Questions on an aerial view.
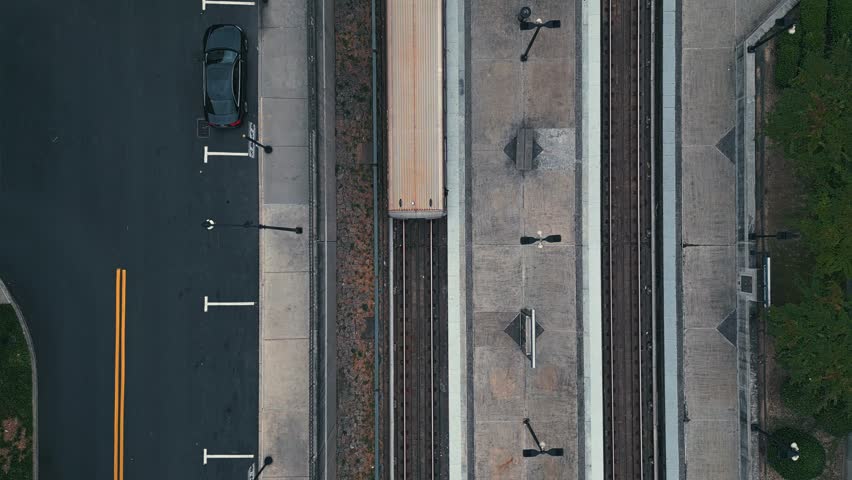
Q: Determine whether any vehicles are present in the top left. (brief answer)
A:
Yes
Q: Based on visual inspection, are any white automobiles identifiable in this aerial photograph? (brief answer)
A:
No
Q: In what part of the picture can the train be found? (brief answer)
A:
top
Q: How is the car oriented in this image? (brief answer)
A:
vertically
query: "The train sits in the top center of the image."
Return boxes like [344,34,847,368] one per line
[384,0,451,228]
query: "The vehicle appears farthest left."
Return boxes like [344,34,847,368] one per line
[200,25,249,130]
